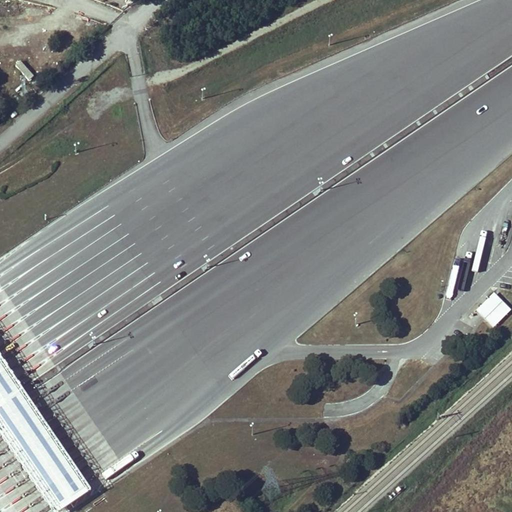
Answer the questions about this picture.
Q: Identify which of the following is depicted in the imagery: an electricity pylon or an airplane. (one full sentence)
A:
Looking from above, you can make out an electricity pylon.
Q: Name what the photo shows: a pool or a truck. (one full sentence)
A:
Of the two, only a truck appears.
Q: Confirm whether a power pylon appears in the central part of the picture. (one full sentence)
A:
No, the scene shows no power pylon in the central part of the picture.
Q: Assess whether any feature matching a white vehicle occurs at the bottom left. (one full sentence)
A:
Yes, looking at the bottom left, one can make out a white vehicle.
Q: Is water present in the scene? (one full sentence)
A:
No, no water is visible.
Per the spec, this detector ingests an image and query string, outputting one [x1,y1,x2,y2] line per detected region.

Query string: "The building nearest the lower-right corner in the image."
[478,294,512,328]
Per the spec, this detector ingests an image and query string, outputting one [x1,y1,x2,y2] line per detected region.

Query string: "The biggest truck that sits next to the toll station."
[100,452,140,482]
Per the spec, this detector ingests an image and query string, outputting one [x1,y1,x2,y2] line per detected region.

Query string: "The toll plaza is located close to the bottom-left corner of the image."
[0,352,90,512]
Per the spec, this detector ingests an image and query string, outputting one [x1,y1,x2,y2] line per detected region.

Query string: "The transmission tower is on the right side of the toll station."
[257,464,286,507]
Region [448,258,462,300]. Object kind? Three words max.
vehicle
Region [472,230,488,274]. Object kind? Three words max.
vehicle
